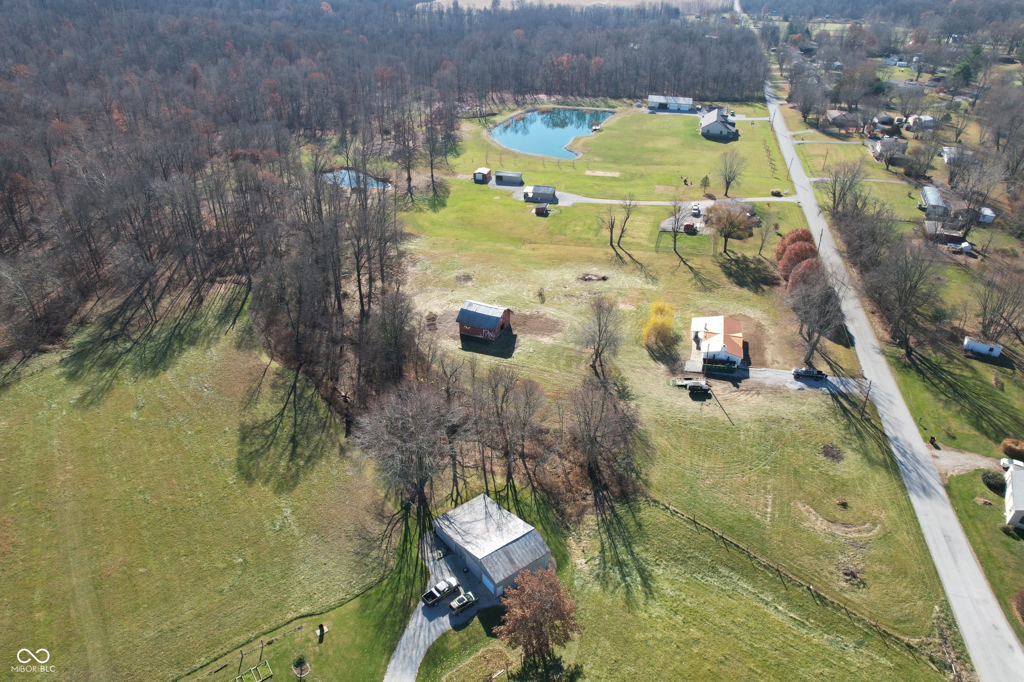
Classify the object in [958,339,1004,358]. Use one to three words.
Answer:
trailer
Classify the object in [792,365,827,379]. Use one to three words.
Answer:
vehicle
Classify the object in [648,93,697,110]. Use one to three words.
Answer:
building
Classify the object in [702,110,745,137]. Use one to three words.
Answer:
house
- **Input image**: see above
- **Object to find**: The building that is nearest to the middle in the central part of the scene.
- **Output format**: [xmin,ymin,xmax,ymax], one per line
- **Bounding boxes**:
[455,300,512,341]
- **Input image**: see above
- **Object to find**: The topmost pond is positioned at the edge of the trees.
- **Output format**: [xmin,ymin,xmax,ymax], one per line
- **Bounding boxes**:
[491,109,615,159]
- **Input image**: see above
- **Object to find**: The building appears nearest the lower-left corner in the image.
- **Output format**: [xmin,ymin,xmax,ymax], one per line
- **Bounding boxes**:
[436,490,555,599]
